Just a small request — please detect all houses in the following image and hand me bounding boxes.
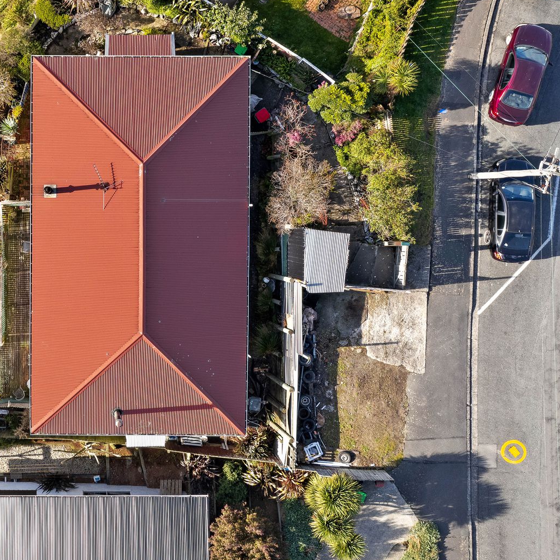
[0,484,214,560]
[28,32,252,447]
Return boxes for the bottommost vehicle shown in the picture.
[488,162,539,261]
